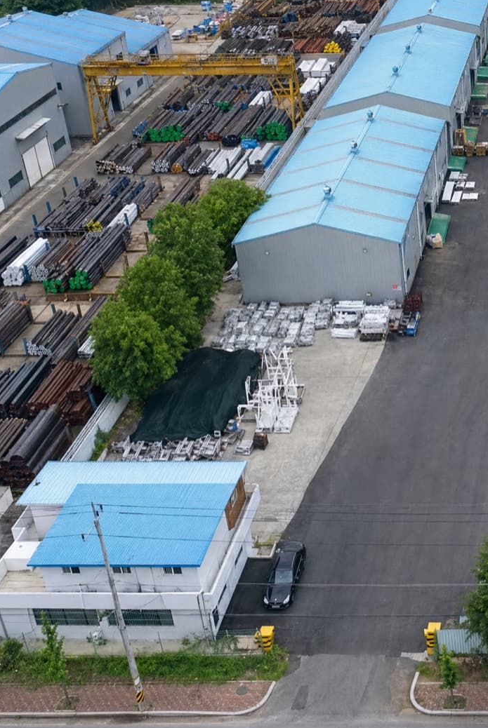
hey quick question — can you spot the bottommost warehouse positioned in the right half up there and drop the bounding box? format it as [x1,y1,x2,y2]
[229,101,450,300]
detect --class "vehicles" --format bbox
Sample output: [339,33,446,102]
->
[258,549,308,613]
[169,24,192,39]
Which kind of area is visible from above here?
industrial area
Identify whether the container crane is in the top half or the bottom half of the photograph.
top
